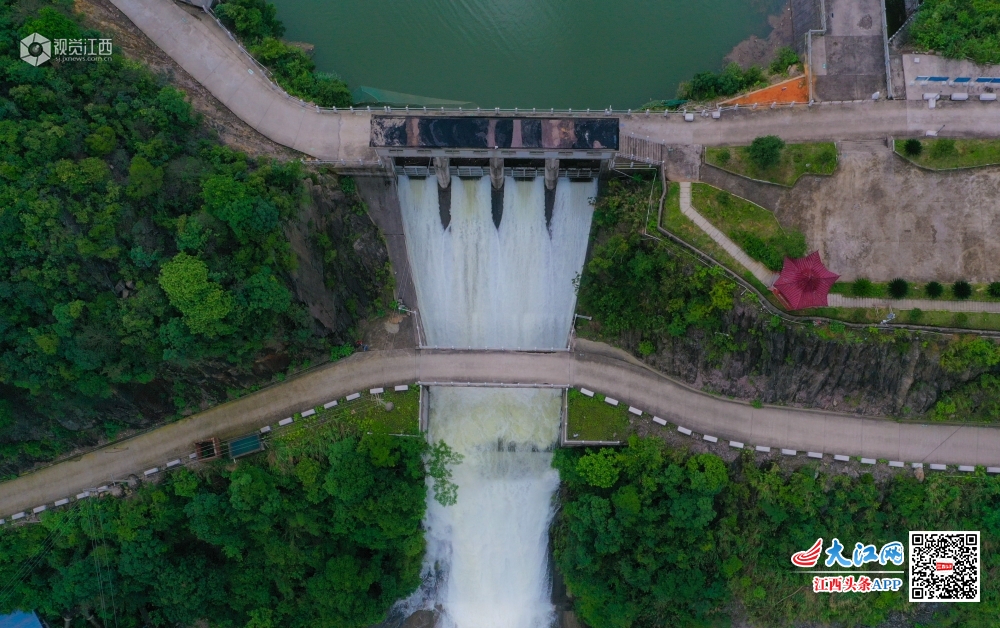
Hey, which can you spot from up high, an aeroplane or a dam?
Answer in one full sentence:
There is a dam in the scene.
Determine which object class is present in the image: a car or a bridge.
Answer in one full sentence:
The one in the frame is a bridge.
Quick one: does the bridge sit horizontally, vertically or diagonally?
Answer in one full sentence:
The bridge is oriented horizontally.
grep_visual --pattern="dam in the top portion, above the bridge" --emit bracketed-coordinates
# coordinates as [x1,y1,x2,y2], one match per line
[319,105,726,347]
